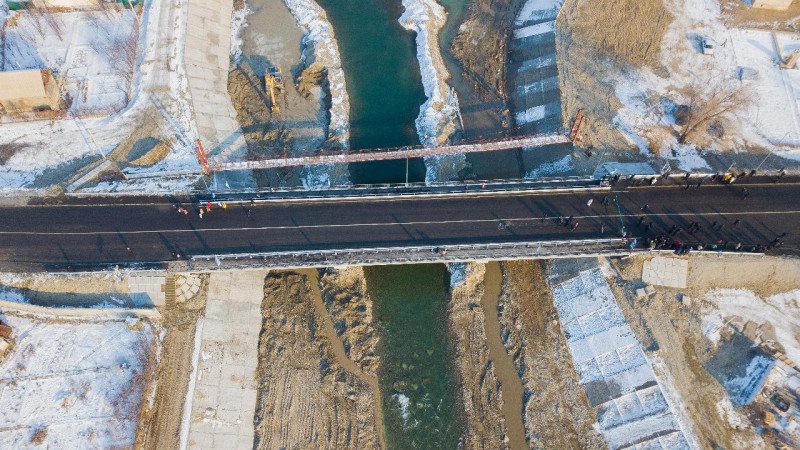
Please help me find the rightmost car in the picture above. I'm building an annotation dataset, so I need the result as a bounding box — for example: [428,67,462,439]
[703,40,716,59]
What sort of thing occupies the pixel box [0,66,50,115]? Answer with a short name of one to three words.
house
